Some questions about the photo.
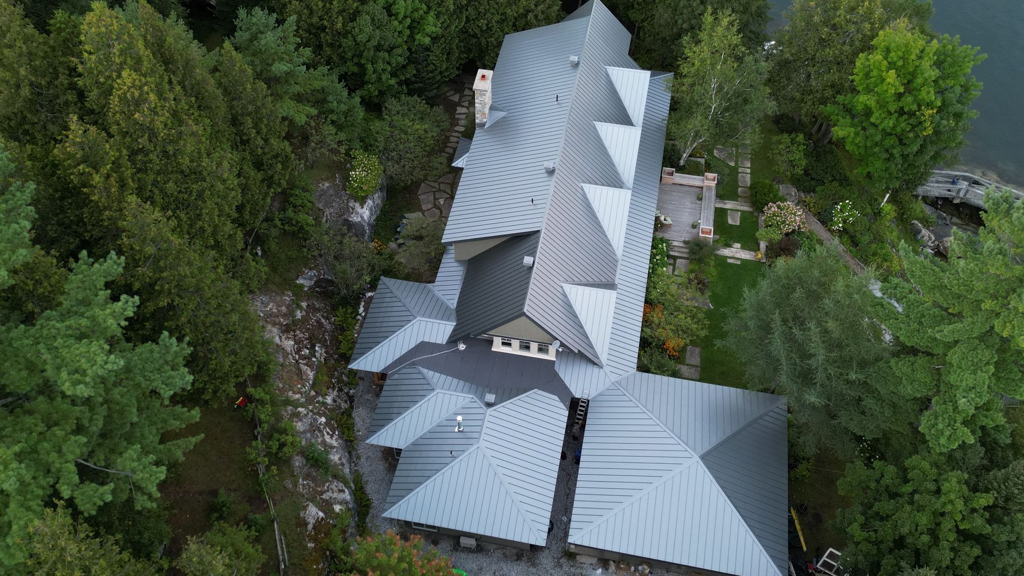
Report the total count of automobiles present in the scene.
zero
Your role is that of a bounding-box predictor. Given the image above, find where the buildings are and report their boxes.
[347,0,789,576]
